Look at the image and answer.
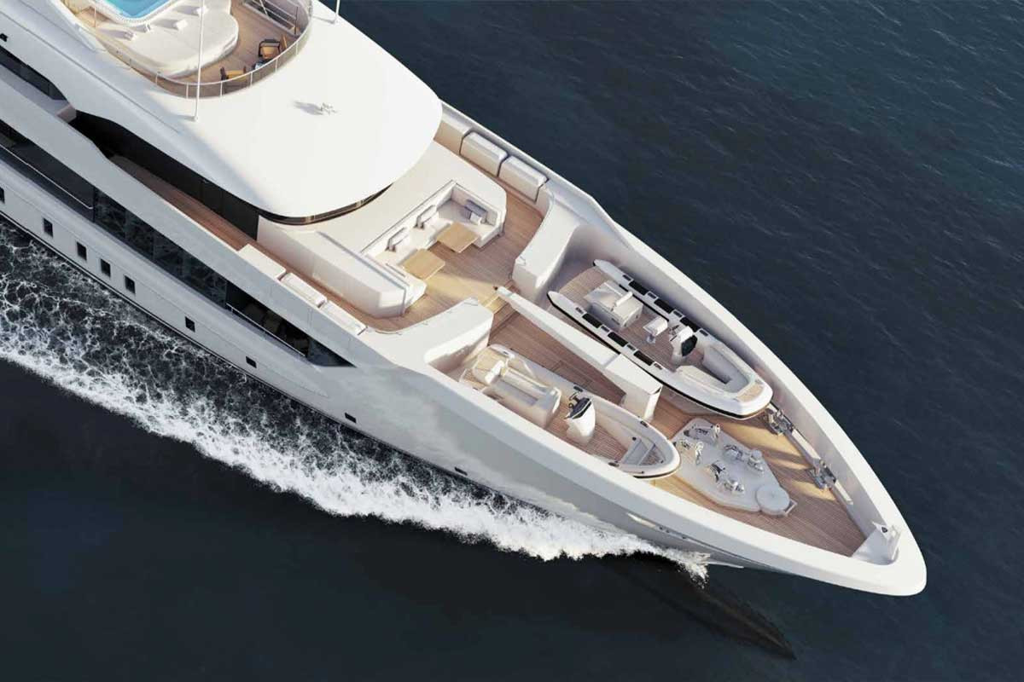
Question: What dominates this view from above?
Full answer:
For the most part, this view shows water.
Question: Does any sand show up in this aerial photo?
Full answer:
No, there's no sand in this view.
